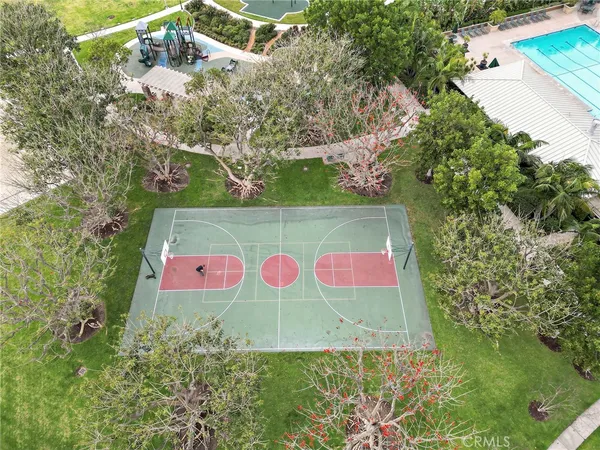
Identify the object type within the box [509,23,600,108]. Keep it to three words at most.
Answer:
swimming pool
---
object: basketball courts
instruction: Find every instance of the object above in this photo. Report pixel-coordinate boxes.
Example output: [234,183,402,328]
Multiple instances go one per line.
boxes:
[117,205,437,356]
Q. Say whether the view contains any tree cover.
Yes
